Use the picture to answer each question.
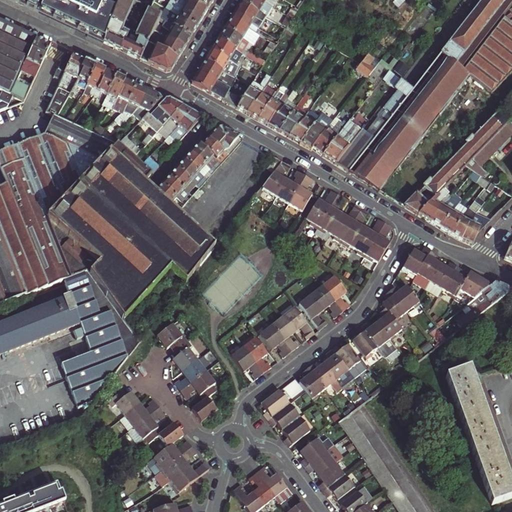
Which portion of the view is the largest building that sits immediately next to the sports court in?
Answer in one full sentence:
You can find the largest building that sits immediately next to the sports court in the left area of the picture.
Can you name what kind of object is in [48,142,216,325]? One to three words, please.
building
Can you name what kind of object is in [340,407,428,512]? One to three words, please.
shed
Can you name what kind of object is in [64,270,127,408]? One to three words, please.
building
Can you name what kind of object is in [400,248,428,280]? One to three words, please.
house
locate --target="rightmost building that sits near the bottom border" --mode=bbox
[446,360,512,505]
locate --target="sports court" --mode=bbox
[204,255,262,316]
